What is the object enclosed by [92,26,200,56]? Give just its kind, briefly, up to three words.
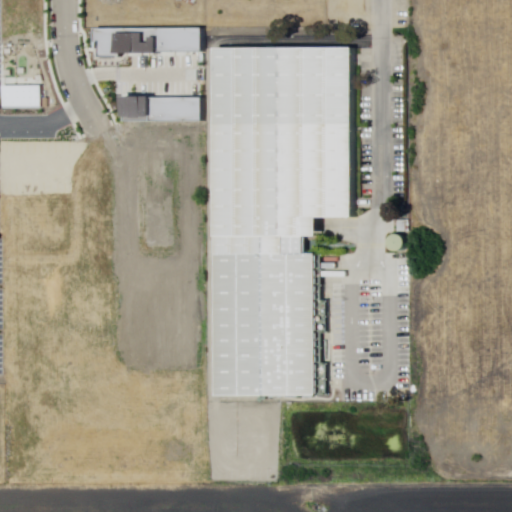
building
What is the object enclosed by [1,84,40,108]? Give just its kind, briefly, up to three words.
building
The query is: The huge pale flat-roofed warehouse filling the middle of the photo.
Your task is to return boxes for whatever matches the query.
[209,46,350,397]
